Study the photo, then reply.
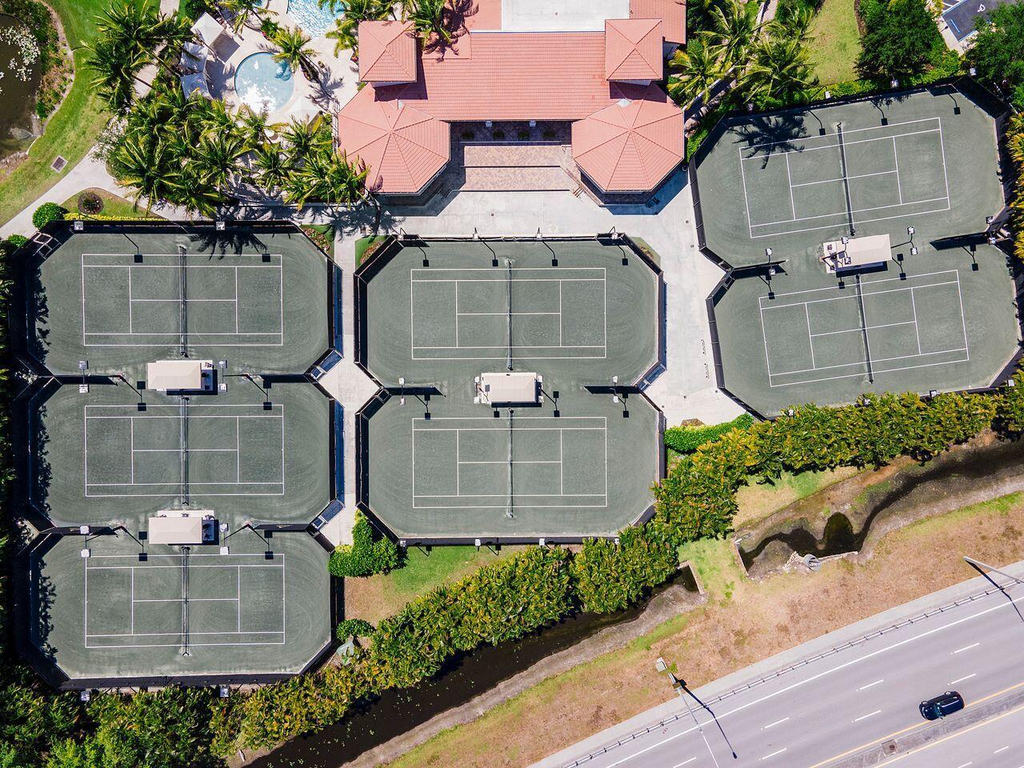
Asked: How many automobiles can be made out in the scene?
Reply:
1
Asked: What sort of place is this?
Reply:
sports ground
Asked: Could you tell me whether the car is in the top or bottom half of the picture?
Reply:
bottom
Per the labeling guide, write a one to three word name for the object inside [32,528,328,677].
tennis court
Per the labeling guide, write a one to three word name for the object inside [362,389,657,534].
tennis court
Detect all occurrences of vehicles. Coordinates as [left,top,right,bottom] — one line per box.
[924,693,967,721]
